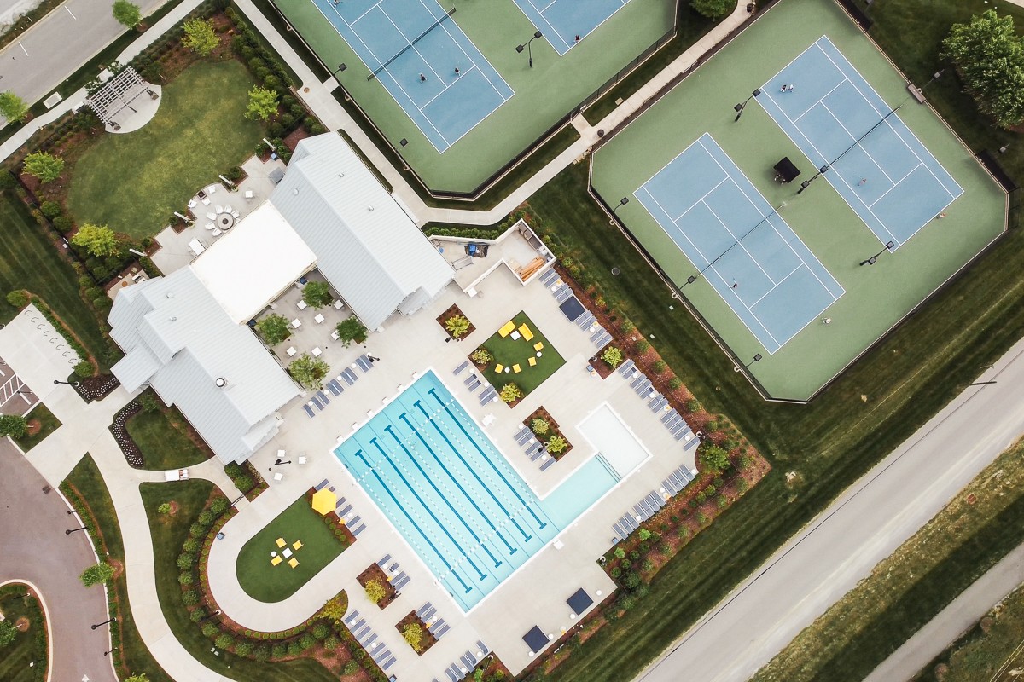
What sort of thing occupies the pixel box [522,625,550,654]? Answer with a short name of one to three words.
umbrella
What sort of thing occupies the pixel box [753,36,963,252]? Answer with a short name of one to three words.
tennis court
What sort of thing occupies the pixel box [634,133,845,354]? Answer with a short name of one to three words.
tennis court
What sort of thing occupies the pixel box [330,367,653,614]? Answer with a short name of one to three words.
swimming pool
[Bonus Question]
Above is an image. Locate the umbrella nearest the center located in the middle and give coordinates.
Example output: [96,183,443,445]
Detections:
[560,295,586,322]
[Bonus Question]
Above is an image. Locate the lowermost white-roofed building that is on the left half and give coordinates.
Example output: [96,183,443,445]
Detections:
[107,128,456,465]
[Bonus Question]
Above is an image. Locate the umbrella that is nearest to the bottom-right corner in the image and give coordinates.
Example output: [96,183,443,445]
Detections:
[567,587,594,615]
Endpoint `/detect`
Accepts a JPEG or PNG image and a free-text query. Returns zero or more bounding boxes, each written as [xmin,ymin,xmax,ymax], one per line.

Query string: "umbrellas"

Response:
[312,488,337,516]
[522,625,550,654]
[560,295,586,322]
[567,587,594,615]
